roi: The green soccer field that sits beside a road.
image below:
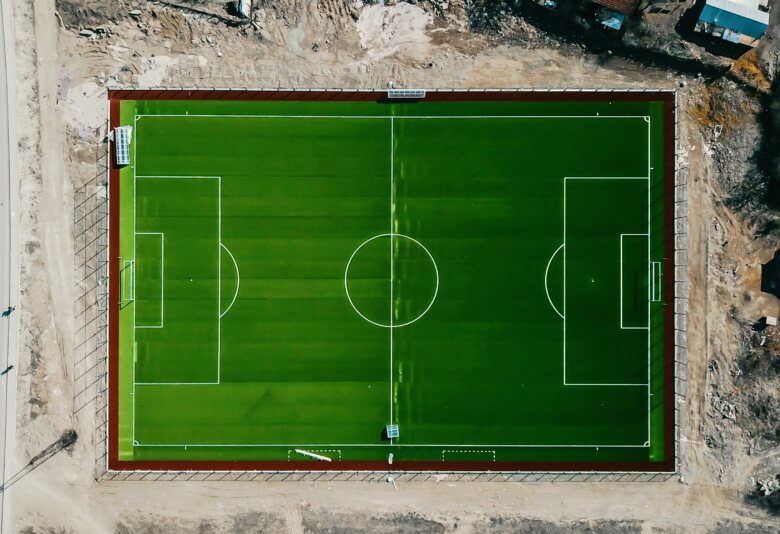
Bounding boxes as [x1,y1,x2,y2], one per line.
[106,88,677,474]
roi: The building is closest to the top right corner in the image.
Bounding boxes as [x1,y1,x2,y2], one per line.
[689,0,773,52]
